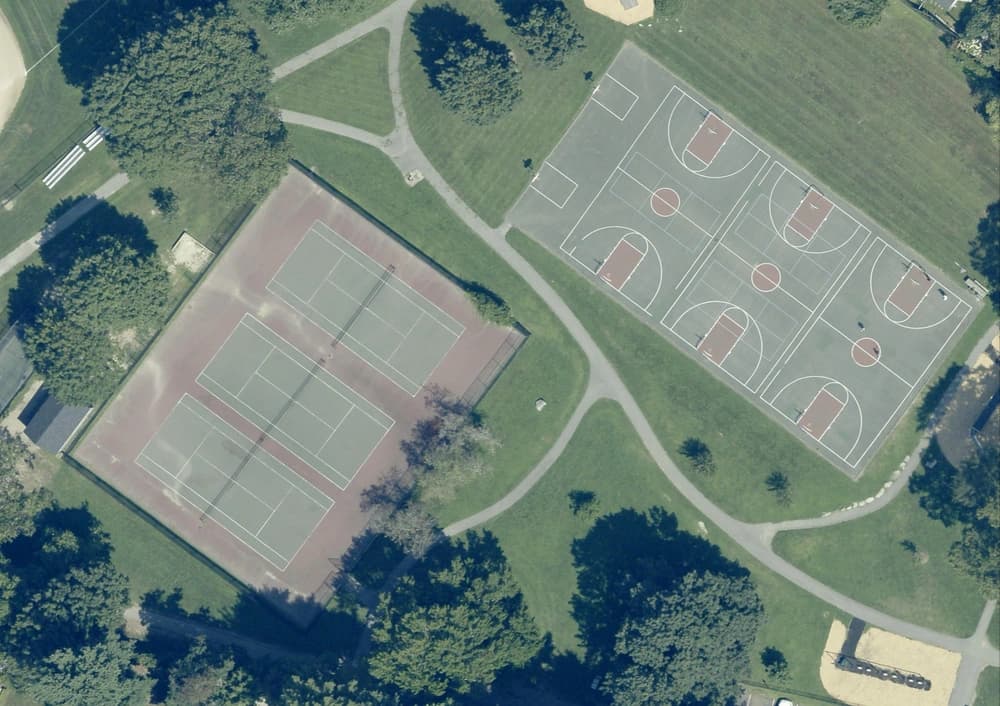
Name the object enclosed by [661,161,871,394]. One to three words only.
basketball court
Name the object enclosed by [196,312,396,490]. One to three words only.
tennis court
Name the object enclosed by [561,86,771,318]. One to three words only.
basketball court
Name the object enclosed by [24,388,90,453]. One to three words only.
shed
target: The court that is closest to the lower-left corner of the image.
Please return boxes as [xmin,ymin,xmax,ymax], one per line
[136,393,335,571]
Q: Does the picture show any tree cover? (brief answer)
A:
Yes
